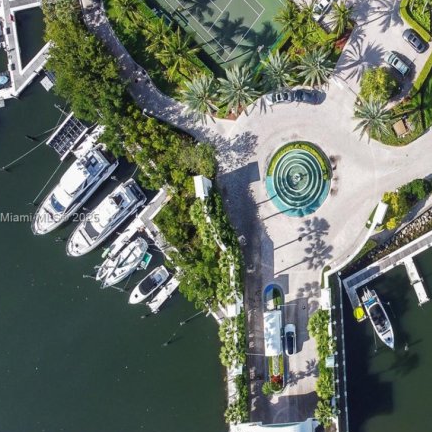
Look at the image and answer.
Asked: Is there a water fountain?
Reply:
Yes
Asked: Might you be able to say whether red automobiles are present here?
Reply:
No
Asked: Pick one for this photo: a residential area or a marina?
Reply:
marina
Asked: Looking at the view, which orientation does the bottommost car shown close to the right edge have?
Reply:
at an angle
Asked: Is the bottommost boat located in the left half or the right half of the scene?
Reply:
right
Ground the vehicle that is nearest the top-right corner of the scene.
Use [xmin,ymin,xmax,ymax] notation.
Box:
[402,28,428,56]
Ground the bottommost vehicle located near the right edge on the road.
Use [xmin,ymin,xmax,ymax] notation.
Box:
[382,53,413,79]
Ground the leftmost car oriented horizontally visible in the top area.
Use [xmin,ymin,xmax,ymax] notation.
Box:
[266,90,295,105]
